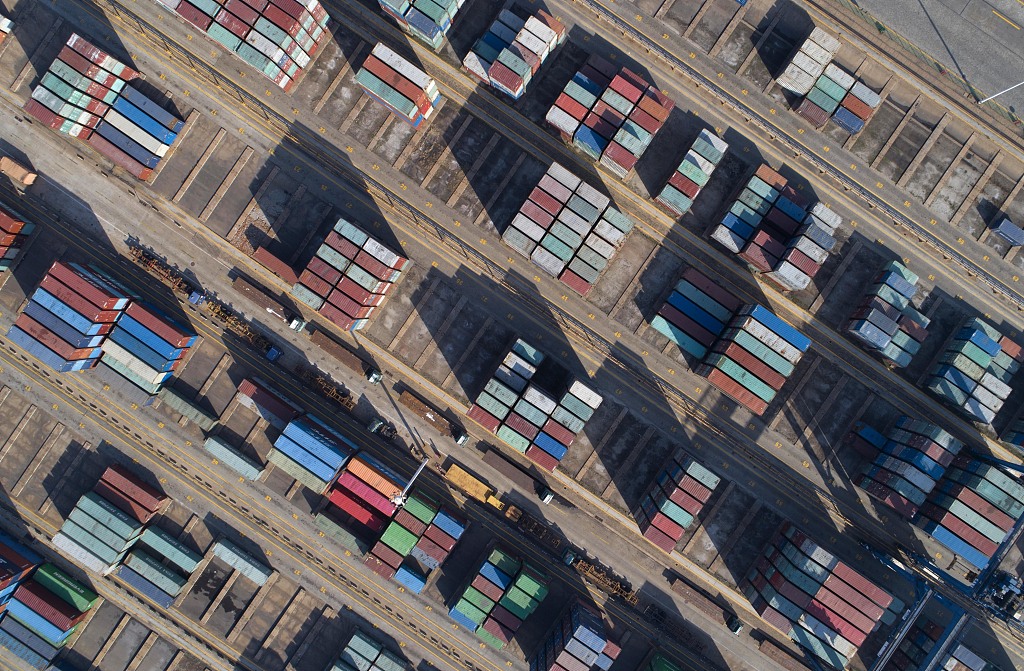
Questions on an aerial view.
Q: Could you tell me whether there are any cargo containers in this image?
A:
Yes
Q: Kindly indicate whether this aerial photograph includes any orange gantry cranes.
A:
No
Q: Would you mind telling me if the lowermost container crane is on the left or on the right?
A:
right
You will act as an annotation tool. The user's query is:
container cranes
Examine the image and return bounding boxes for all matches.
[887,440,1024,621]
[789,536,972,671]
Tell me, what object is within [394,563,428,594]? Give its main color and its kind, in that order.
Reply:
blue shipping container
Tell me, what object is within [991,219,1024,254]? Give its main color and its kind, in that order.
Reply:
blue shipping container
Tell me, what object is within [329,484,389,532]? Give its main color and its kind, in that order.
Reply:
red shipping container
